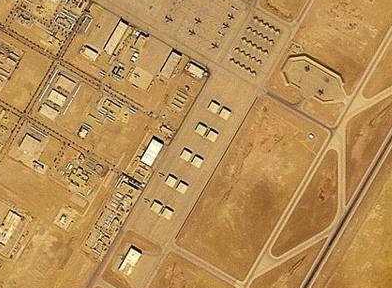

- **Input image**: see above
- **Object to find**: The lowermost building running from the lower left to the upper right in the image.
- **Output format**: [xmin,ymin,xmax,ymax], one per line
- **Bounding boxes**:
[118,248,141,276]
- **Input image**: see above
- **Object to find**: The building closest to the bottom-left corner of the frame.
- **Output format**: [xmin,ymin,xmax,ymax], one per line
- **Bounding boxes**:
[0,212,20,247]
